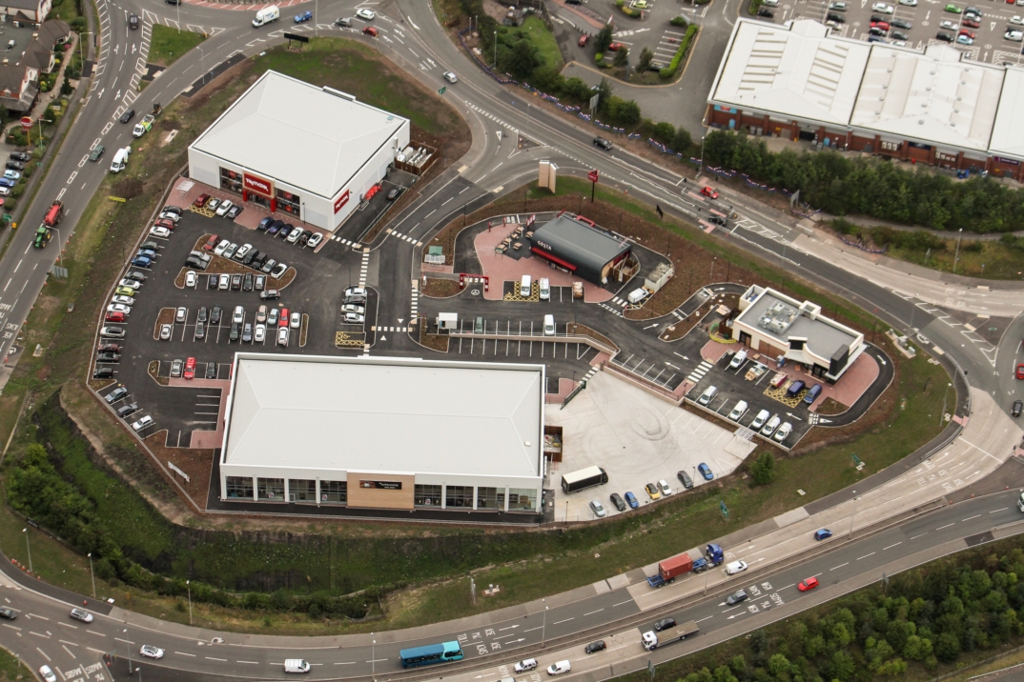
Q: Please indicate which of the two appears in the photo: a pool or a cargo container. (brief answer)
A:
cargo container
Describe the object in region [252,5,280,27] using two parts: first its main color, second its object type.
white truck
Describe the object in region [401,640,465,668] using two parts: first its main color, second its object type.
blue bus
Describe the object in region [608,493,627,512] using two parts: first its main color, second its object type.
gray car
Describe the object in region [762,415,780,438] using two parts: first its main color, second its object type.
white vehicle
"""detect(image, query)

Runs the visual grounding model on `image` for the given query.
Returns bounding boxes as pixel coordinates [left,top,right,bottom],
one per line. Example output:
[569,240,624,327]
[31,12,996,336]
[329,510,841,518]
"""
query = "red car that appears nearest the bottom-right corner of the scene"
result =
[797,577,820,592]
